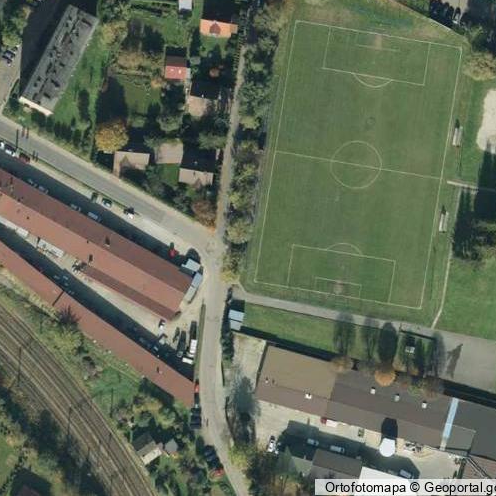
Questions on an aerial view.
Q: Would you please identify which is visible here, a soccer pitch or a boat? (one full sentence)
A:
Looking from above, you can make out a soccer pitch.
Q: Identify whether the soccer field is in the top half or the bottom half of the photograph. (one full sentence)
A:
It is in the top half that the soccer field appears.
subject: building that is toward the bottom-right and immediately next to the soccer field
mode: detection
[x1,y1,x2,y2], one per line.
[255,345,496,460]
